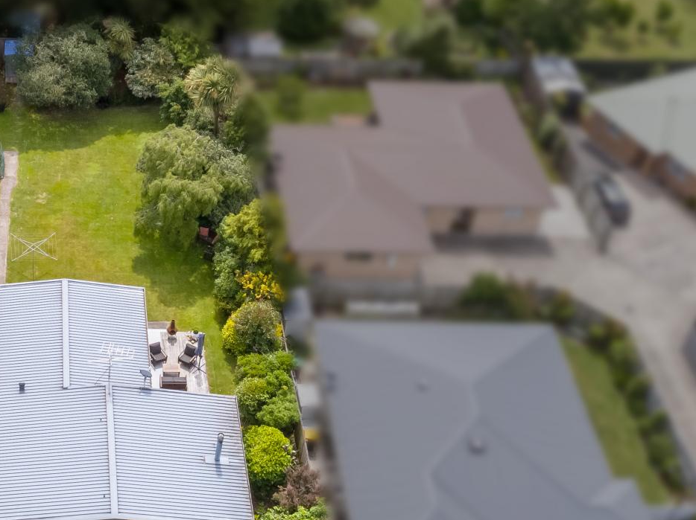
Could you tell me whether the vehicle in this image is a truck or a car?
car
